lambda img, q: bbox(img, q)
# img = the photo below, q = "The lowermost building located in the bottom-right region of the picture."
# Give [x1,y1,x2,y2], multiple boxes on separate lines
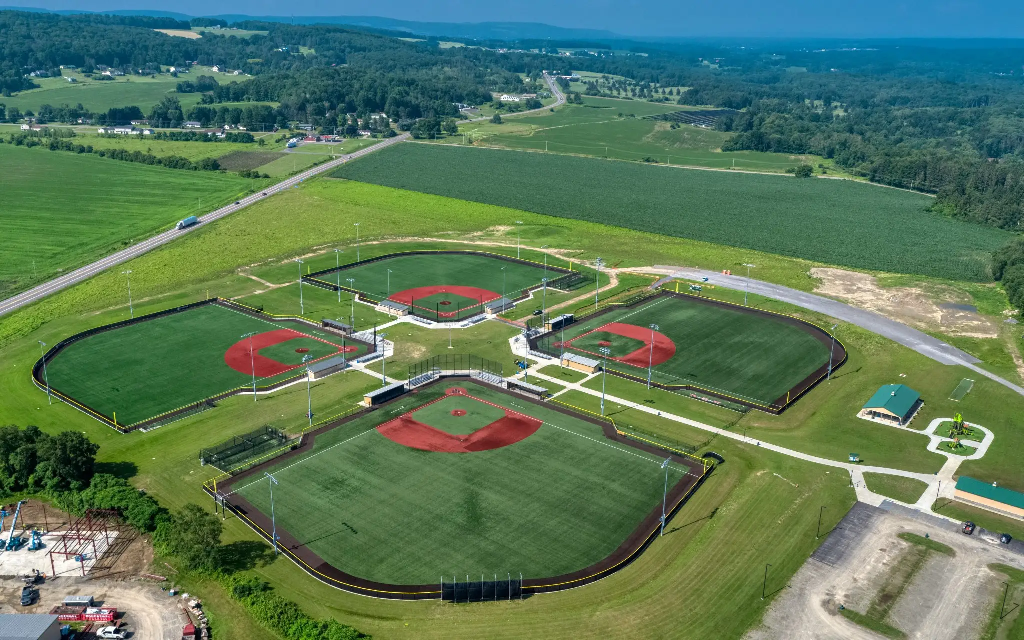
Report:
[952,467,1024,519]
